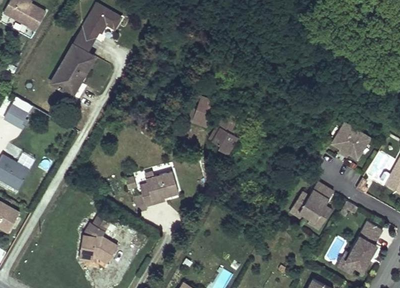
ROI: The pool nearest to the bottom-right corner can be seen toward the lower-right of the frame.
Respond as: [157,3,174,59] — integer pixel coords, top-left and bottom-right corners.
[324,238,346,264]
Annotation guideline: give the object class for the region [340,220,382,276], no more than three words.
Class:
house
